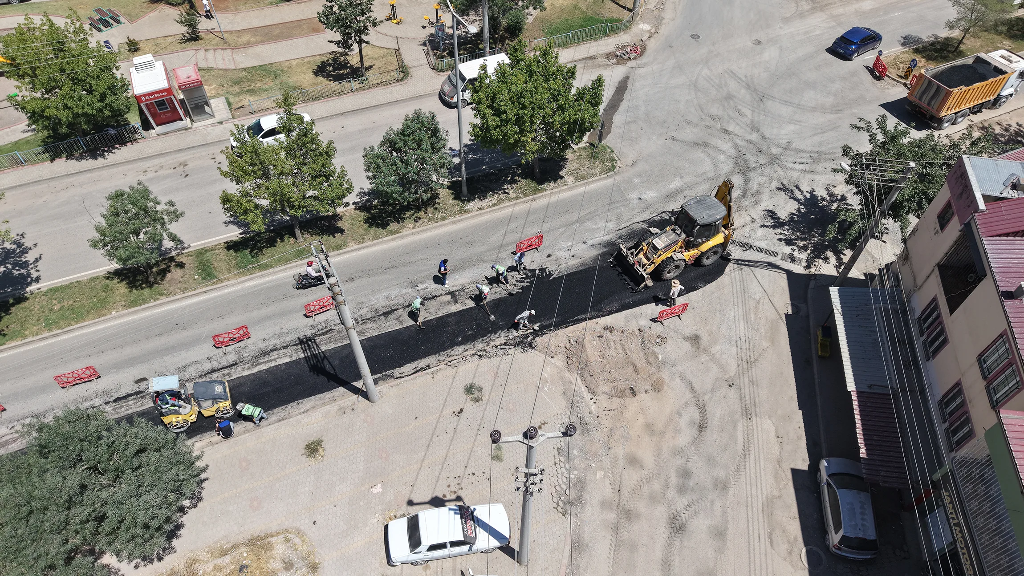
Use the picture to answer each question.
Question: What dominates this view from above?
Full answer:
The largest share of the image is taken up by paved ground.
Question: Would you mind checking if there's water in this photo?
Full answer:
No, the picture contains no water.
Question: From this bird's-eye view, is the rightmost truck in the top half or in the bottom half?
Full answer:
The top half of the photo is where the rightmost truck is.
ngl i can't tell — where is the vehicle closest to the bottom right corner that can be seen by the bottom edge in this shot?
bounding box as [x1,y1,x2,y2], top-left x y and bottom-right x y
[819,455,887,569]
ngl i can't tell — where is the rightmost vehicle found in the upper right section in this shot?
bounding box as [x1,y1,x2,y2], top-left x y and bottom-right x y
[905,34,1024,126]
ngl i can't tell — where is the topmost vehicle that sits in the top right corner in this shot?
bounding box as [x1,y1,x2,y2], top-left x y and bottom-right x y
[829,23,887,60]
